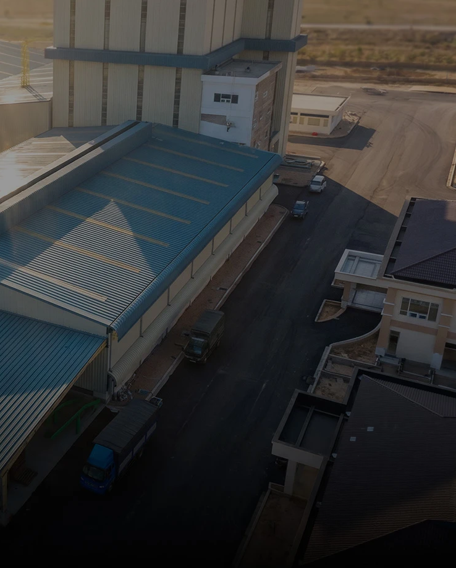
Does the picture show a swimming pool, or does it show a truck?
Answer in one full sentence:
It is a truck that can be seen here.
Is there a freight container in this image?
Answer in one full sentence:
No, there is no freight container in the image.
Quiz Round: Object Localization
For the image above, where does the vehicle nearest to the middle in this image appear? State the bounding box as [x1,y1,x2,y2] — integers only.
[185,310,226,363]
